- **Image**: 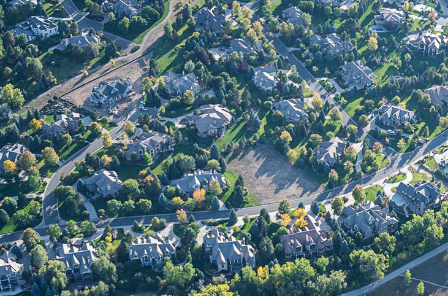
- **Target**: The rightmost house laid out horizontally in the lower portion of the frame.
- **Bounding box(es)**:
[392,181,443,210]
